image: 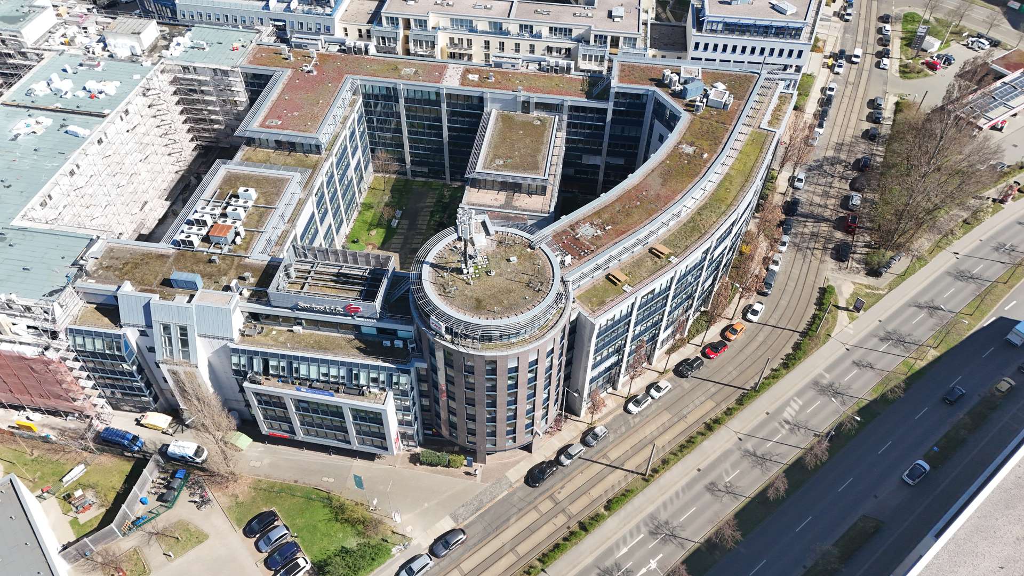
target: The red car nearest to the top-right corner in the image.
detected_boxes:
[922,58,943,71]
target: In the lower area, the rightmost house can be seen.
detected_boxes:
[903,443,1024,576]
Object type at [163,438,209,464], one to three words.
vehicle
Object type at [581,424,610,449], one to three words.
car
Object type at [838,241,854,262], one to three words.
car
